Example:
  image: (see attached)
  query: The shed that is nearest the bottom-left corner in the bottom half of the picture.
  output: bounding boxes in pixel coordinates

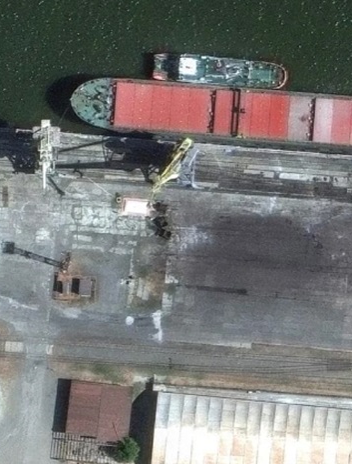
[67,380,133,441]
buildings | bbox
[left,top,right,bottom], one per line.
[150,389,352,464]
[67,380,133,441]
